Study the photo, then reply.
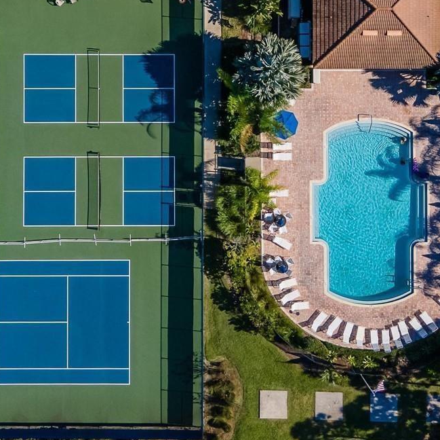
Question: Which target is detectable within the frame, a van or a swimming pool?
swimming pool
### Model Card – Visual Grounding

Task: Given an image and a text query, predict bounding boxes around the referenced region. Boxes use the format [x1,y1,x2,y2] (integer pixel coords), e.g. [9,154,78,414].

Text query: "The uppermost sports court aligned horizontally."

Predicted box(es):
[23,54,175,124]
